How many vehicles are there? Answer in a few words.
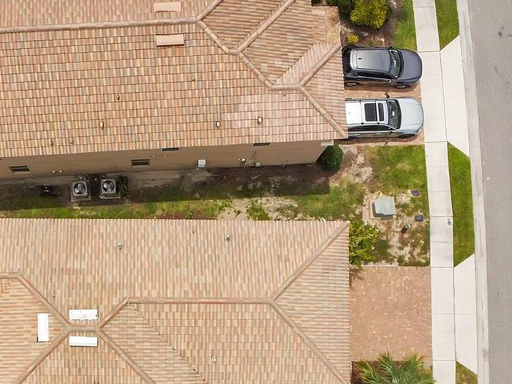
2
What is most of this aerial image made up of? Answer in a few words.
buildings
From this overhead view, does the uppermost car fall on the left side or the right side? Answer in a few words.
right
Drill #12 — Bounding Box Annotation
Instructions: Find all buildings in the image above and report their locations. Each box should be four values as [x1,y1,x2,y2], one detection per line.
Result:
[0,0,351,181]
[0,217,352,384]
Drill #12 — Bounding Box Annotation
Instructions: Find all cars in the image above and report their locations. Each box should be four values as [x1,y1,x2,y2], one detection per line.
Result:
[349,94,423,141]
[343,42,421,89]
